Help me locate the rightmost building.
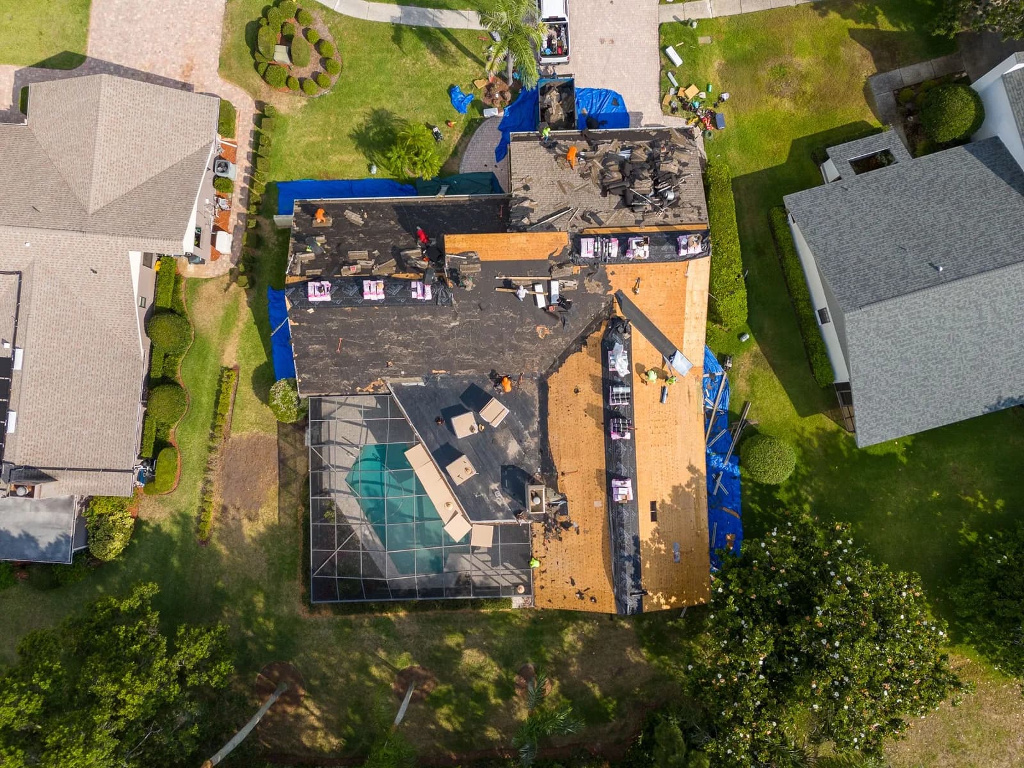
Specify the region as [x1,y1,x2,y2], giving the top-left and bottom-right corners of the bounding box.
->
[782,50,1024,448]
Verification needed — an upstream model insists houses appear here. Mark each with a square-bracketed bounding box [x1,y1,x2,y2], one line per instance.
[782,50,1024,448]
[285,127,711,614]
[0,74,227,564]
